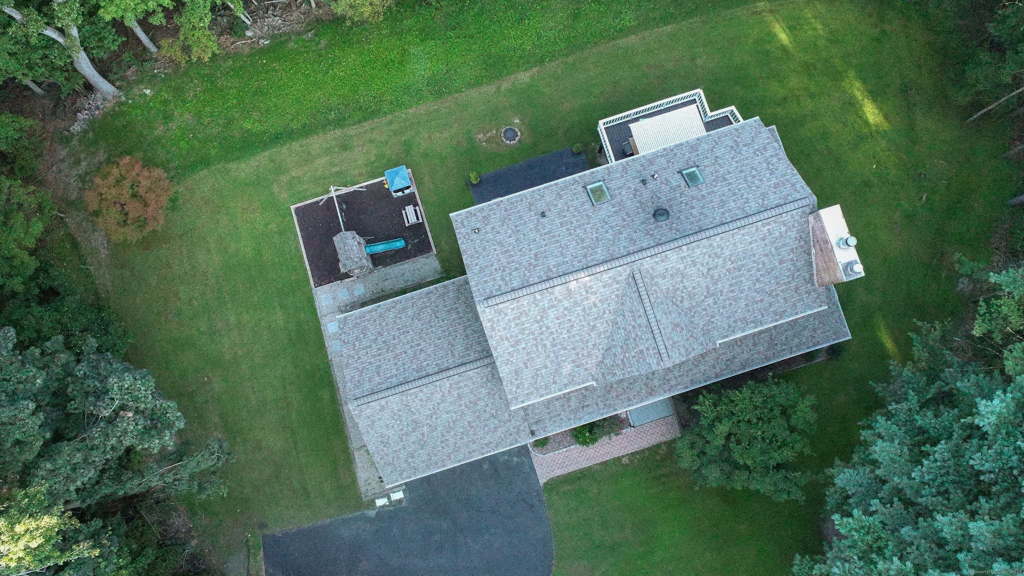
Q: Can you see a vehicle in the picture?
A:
No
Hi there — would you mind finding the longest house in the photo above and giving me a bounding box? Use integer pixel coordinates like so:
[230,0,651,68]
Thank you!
[335,115,865,490]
